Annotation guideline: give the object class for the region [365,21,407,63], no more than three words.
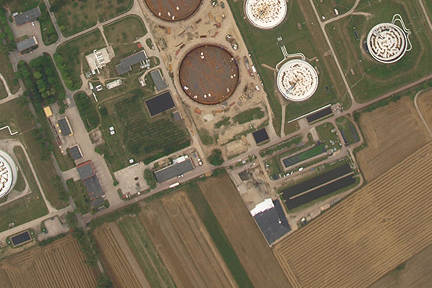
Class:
storage tank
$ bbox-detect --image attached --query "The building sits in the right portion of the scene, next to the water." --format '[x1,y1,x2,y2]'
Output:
[250,198,291,246]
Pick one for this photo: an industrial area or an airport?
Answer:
industrial area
